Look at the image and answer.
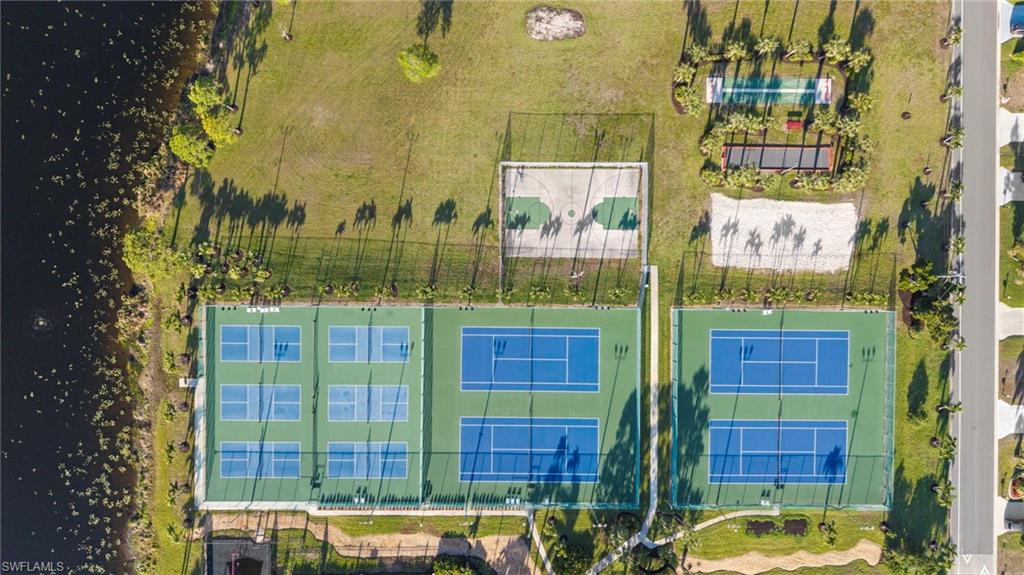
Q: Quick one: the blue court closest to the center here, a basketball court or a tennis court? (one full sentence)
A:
It looks like the blue court closest to the center is a tennis court.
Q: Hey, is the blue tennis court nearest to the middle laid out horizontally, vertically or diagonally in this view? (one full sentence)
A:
I'd say the blue tennis court nearest to the middle is aligned horizontally in the picture.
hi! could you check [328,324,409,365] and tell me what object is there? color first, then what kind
blue sports court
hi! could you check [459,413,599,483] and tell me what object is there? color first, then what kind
blue tennis court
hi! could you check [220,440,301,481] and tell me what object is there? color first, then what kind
blue sports court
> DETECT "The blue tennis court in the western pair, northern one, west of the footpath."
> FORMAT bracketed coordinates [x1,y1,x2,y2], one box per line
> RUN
[460,326,600,392]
